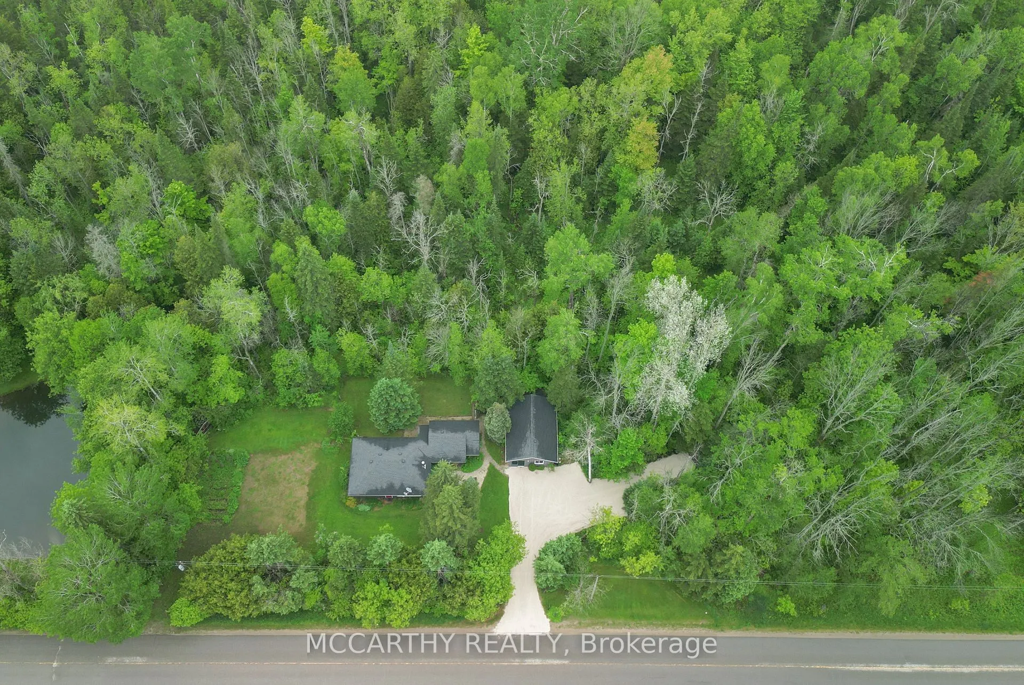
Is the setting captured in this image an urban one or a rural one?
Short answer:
rural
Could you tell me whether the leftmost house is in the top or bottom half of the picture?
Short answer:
bottom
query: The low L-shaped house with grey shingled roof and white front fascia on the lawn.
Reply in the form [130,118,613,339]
[344,420,480,500]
